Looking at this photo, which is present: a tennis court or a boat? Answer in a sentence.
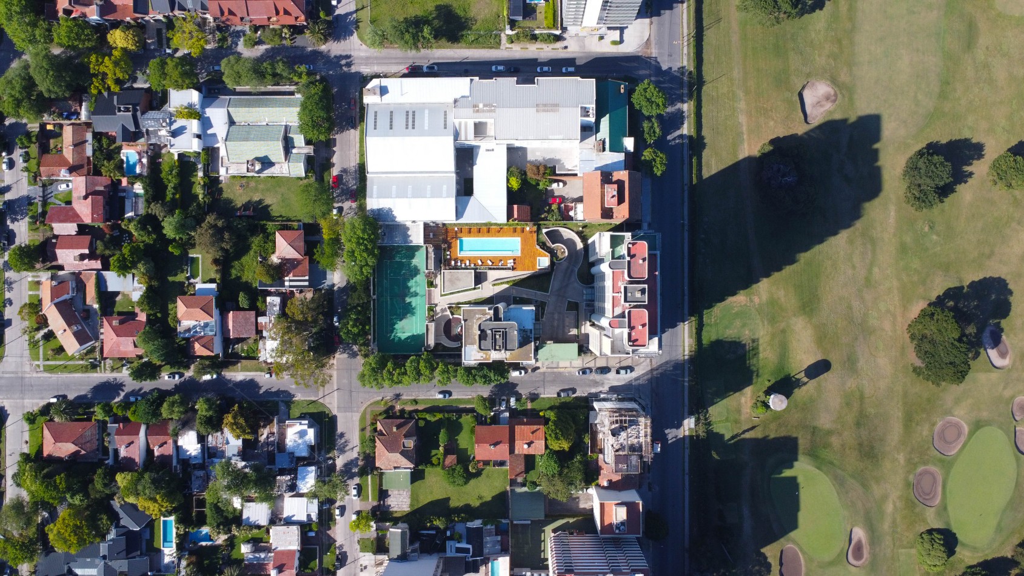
I can see a tennis court in this picture.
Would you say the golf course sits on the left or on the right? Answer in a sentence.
It is on the right.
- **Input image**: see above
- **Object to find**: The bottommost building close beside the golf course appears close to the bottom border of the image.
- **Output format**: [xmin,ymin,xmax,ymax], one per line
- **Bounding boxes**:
[544,525,652,576]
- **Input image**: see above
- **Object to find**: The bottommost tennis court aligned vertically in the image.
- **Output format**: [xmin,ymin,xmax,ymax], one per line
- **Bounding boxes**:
[377,246,425,354]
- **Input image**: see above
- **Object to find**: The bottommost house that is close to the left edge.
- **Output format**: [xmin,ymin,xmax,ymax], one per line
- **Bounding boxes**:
[33,494,155,576]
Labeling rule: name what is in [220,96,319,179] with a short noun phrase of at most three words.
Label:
building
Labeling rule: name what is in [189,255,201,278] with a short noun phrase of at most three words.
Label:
swimming pool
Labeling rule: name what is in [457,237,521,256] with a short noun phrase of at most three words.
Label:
swimming pool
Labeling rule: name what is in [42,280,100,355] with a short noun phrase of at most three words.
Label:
house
